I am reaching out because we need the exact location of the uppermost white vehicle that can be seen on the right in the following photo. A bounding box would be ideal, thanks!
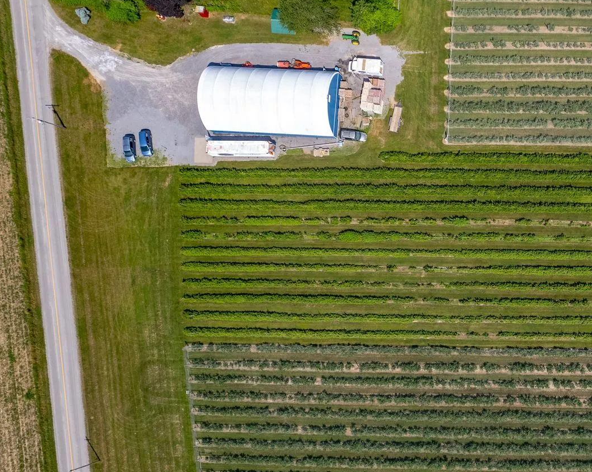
[350,55,386,74]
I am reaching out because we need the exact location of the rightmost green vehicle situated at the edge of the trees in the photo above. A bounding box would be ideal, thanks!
[339,32,362,46]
